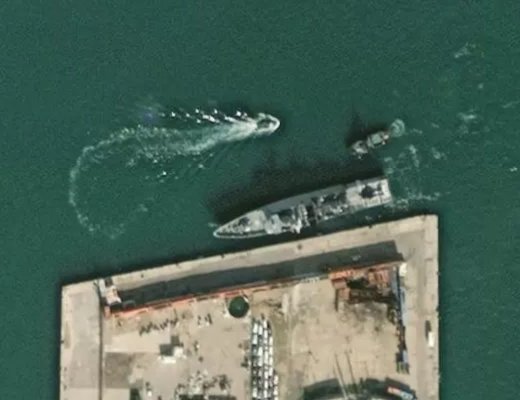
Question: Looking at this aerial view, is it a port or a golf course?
port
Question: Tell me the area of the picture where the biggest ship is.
center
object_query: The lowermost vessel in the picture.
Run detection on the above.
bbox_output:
[213,175,394,240]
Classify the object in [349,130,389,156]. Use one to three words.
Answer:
boat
